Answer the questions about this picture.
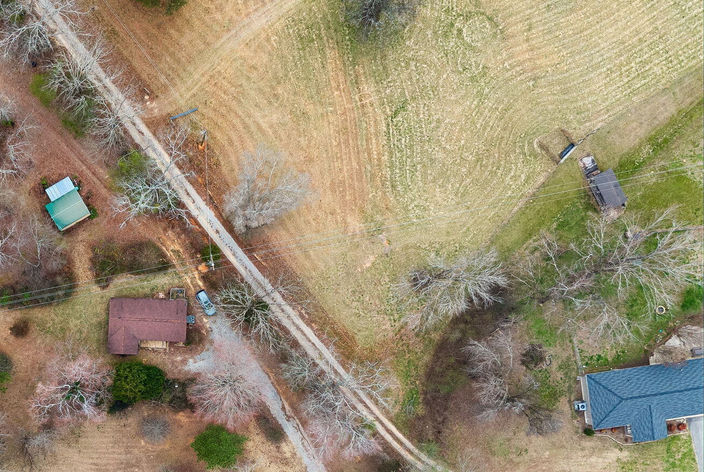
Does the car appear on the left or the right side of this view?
left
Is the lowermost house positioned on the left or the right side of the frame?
right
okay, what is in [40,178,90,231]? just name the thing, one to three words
shed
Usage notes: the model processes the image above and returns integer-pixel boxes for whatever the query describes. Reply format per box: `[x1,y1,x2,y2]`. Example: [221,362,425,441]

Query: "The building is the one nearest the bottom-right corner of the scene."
[580,359,704,442]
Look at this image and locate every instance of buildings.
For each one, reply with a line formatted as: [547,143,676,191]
[580,359,704,442]
[108,298,188,356]
[580,168,626,212]
[40,178,90,231]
